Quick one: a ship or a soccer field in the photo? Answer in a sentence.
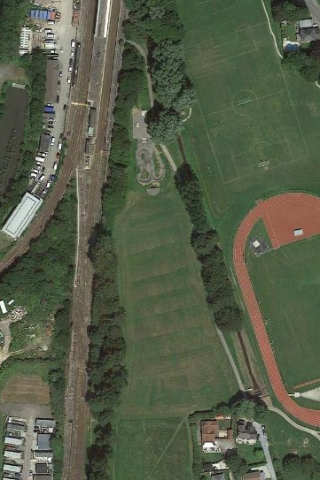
Of the two, only a soccer field appears.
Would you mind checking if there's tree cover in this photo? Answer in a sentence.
Yes, there's tree cover in this view.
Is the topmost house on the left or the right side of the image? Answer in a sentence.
The topmost house sits on the right side.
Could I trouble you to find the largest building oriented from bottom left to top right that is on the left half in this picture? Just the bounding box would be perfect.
[1,192,42,239]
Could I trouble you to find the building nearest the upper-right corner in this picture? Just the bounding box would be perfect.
[300,19,320,43]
